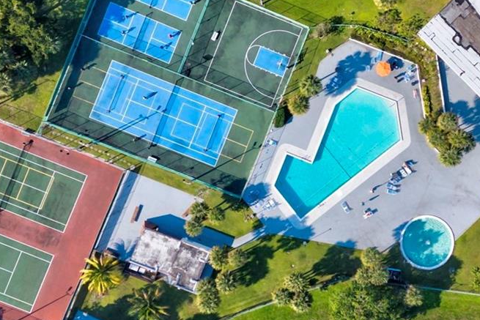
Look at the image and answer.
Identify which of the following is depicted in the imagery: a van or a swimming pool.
swimming pool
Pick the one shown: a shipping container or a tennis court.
tennis court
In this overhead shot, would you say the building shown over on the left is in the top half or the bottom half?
bottom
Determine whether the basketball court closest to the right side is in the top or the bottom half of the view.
top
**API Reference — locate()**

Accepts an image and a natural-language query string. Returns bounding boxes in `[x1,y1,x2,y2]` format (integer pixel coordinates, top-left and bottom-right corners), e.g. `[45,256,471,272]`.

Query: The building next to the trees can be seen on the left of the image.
[120,229,208,295]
